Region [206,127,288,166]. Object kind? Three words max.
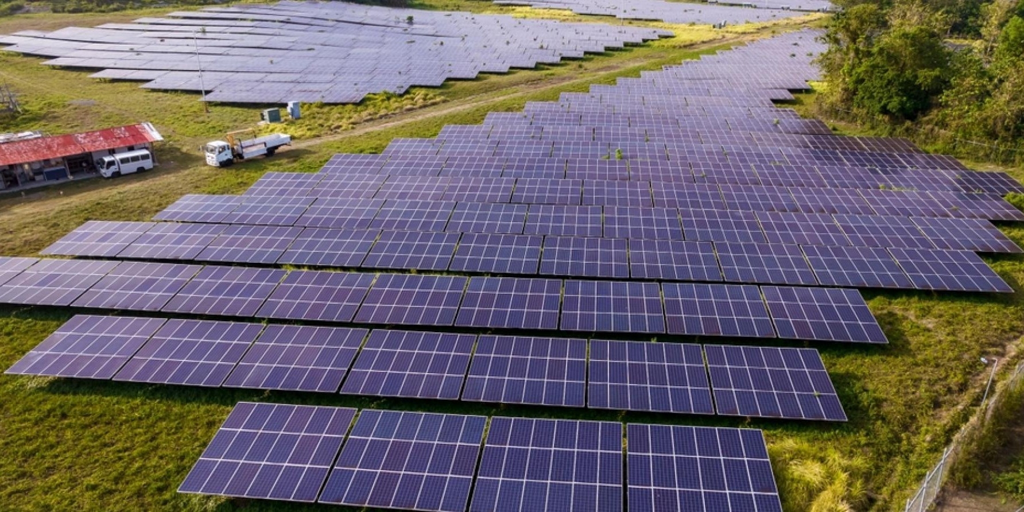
truck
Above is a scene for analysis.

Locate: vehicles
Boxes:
[206,127,288,166]
[99,145,154,176]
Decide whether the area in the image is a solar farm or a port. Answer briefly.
solar farm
